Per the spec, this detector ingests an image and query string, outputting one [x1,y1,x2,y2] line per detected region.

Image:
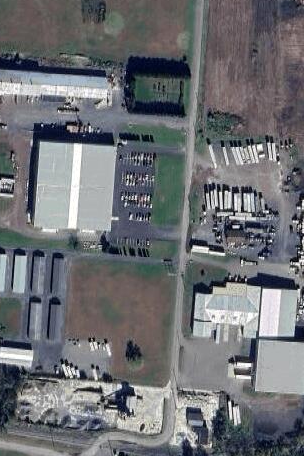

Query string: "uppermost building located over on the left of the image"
[0,66,115,104]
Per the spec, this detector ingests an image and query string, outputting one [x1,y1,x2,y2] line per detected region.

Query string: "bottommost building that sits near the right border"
[256,339,304,394]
